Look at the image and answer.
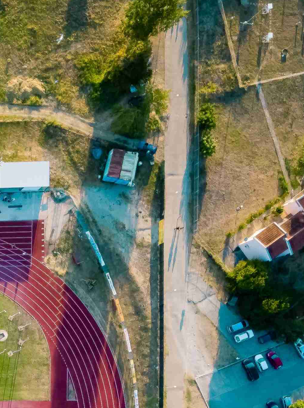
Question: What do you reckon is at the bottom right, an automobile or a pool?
automobile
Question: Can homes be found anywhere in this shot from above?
Yes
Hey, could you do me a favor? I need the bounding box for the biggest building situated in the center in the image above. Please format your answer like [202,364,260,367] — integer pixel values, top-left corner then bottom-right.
[100,149,140,186]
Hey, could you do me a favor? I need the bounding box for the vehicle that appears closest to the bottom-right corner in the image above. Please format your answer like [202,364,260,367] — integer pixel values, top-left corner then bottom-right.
[279,395,293,408]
